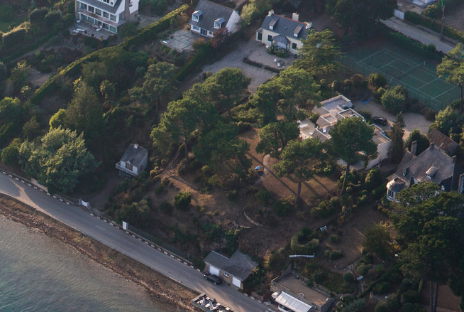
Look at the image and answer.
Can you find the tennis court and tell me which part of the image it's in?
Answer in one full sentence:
The tennis court appears toward the top right of the photo.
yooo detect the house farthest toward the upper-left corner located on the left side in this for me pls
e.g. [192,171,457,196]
[71,0,138,34]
